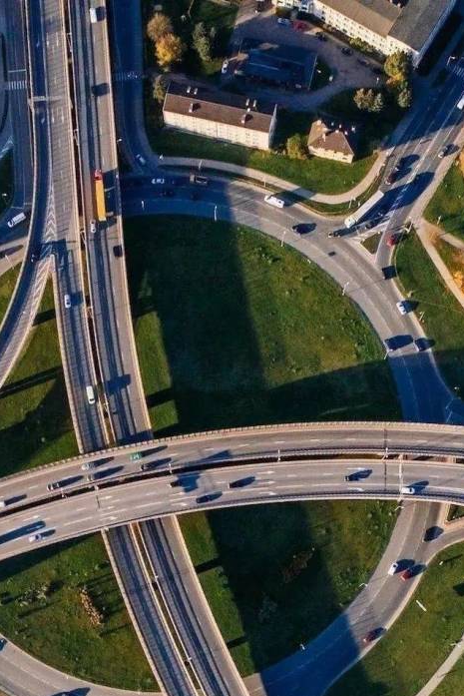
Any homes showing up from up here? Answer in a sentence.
Yes, the image includes a home.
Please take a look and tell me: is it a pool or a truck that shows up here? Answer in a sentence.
Of the two, only a truck appears.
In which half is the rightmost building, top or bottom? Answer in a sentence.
It is in the top half that the rightmost building appears.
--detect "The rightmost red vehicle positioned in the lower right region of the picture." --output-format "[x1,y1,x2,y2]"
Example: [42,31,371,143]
[398,567,411,582]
